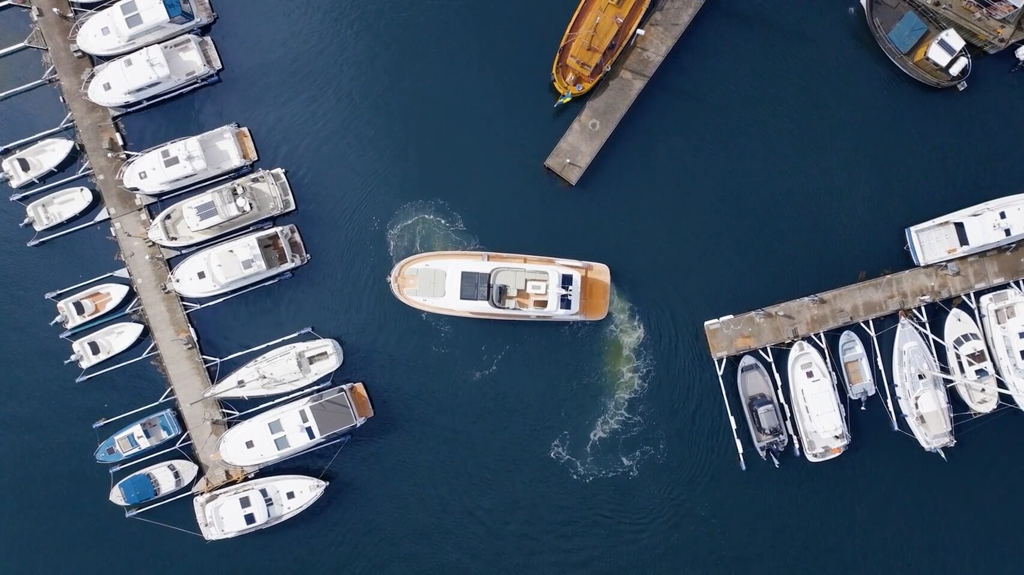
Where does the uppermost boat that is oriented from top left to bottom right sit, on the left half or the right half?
right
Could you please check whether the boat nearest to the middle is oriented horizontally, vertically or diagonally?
horizontally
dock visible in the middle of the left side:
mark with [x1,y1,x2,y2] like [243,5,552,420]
[31,0,242,480]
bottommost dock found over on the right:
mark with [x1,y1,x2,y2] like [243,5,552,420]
[702,238,1024,361]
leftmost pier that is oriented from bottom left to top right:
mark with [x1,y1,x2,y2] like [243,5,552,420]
[542,0,704,186]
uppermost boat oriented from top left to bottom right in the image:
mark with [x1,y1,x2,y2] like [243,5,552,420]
[838,0,984,92]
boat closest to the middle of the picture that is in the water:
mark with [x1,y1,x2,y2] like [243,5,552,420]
[385,249,610,321]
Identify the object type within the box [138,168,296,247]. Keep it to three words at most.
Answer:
boat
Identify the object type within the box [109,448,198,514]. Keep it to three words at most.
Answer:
boat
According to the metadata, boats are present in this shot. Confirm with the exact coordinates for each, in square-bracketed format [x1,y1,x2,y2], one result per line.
[823,330,895,427]
[1005,38,1024,70]
[876,310,1024,464]
[971,285,1024,427]
[76,36,224,108]
[0,128,84,194]
[50,281,133,334]
[65,0,227,54]
[138,168,296,247]
[774,336,851,464]
[112,121,262,195]
[130,437,350,539]
[64,324,145,378]
[734,355,789,469]
[14,185,91,243]
[838,0,984,92]
[897,194,1024,271]
[385,249,610,321]
[93,409,187,463]
[181,331,345,413]
[161,224,312,297]
[192,377,376,467]
[109,448,198,514]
